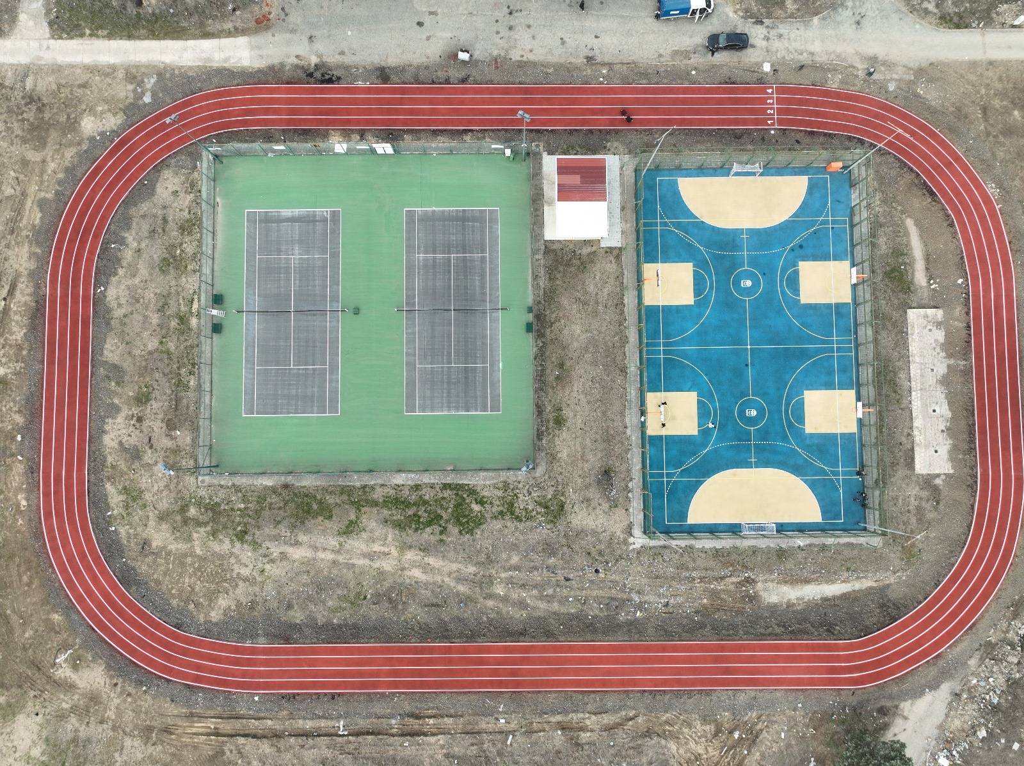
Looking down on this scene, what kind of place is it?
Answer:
sports ground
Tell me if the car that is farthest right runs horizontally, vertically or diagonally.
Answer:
horizontally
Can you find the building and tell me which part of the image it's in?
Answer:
top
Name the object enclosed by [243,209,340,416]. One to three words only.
tennis court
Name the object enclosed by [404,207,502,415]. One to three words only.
tennis court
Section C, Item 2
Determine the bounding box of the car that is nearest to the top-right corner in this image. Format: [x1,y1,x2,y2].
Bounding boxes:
[708,28,750,49]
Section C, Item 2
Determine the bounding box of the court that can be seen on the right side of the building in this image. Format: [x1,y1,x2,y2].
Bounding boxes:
[636,167,866,534]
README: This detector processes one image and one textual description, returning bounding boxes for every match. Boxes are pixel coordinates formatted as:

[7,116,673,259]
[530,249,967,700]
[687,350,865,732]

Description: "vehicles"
[708,28,750,49]
[655,0,714,21]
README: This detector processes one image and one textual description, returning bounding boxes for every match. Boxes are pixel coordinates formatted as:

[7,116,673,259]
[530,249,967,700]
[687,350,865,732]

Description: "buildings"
[555,156,609,236]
